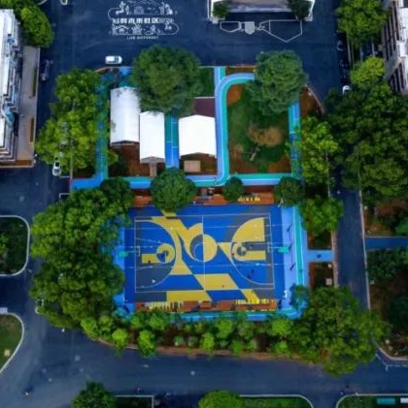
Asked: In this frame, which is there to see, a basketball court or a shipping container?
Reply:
basketball court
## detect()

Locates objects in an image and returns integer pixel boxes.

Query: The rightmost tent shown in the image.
[178,115,217,159]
